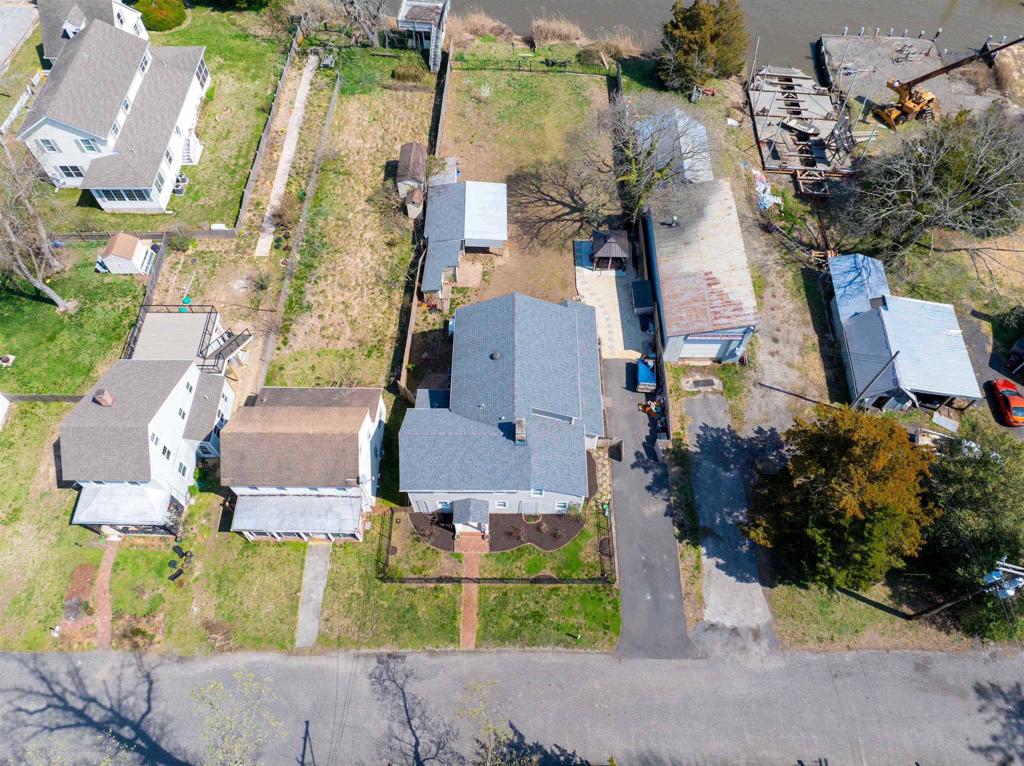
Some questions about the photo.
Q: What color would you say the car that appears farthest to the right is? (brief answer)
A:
red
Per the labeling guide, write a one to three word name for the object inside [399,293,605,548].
house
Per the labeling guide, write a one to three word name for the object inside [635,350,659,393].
trailer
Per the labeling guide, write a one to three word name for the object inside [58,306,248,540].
house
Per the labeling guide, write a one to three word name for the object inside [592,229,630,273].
gazebo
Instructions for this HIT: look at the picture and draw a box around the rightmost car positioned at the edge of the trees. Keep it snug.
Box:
[997,375,1024,422]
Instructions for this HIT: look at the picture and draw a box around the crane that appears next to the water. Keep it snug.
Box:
[866,36,1024,137]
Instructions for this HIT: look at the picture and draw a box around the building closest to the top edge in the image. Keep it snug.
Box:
[398,0,448,73]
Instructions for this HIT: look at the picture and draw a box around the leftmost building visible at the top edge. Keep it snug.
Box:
[12,0,211,211]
